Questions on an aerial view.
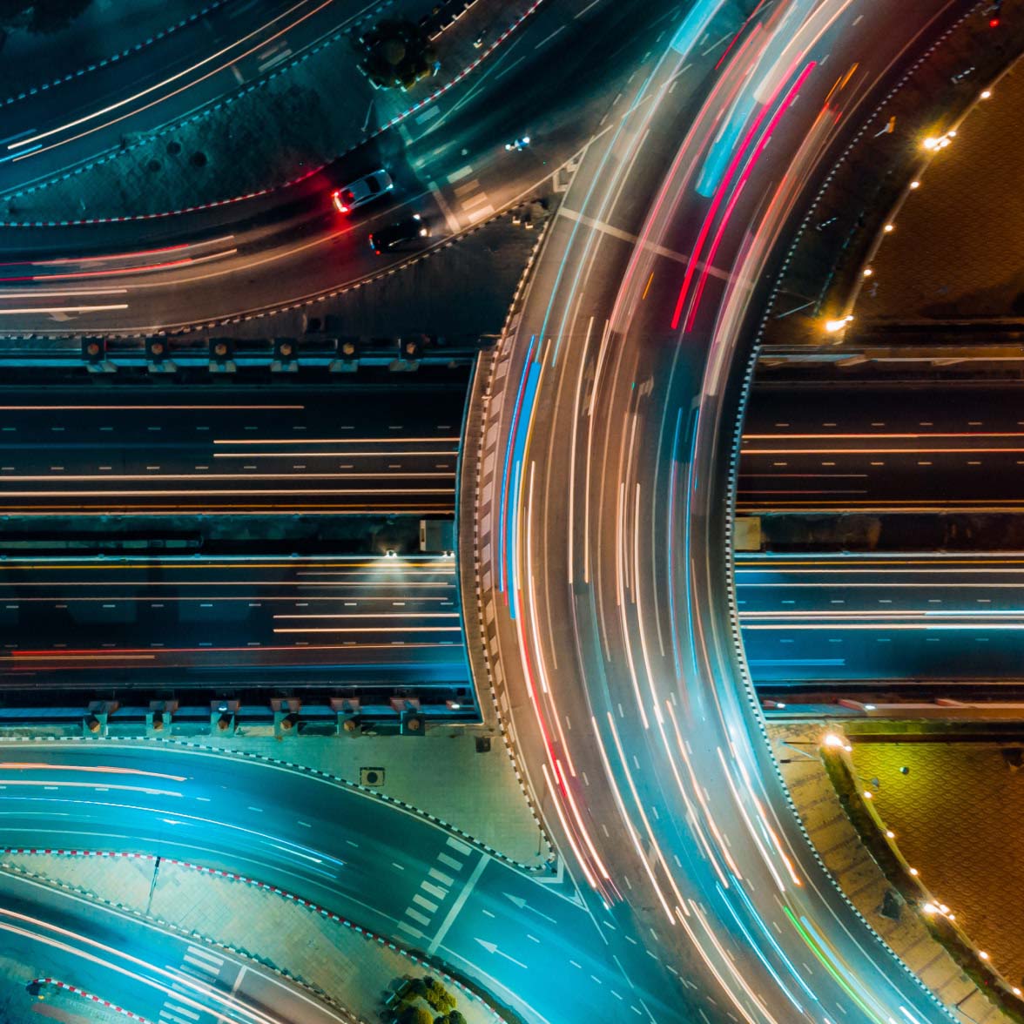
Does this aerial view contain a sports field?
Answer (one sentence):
No, the frame has no sports field in it.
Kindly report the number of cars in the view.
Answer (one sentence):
The number of cars here is 2.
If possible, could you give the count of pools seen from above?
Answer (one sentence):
Not a single pool can be seen.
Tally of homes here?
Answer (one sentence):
The count of homes is 0.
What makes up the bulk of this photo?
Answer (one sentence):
For the most part, this view shows paved ground.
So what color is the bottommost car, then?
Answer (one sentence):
In this view, the bottommost car is black.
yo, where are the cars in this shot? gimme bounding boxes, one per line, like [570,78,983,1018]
[364,211,428,252]
[328,166,393,210]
